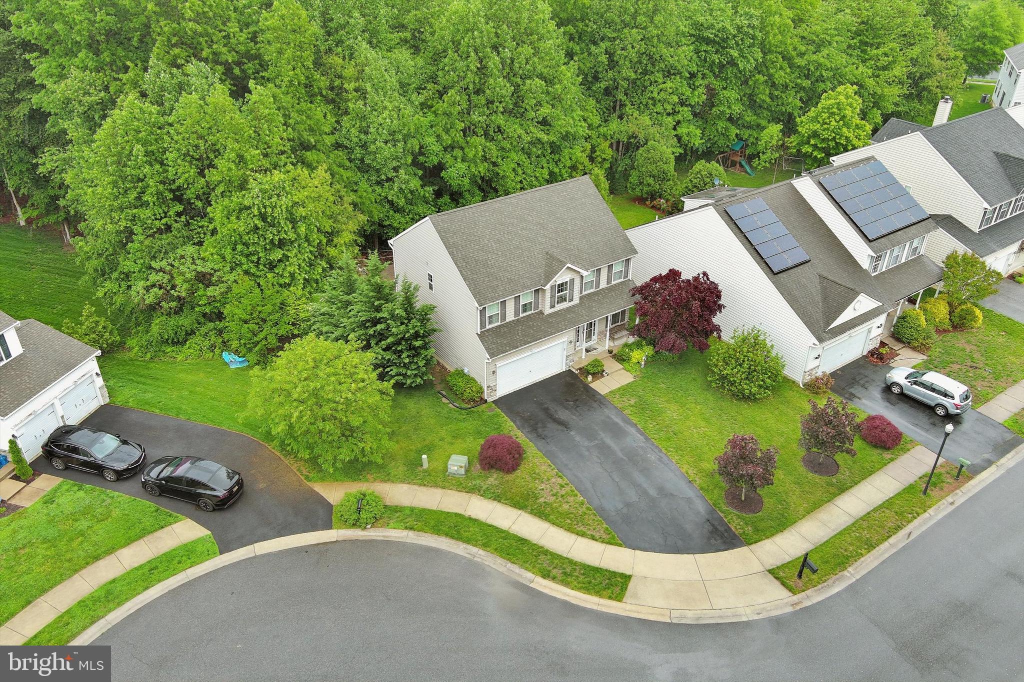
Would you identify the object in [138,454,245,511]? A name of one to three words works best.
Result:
car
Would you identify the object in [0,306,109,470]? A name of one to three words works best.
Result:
house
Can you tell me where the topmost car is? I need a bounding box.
[888,365,974,415]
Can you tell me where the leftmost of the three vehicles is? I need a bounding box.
[40,424,147,481]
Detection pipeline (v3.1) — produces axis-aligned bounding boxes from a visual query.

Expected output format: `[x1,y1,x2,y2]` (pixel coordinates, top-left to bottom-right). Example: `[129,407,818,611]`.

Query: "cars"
[40,424,147,481]
[138,454,245,511]
[888,365,974,415]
